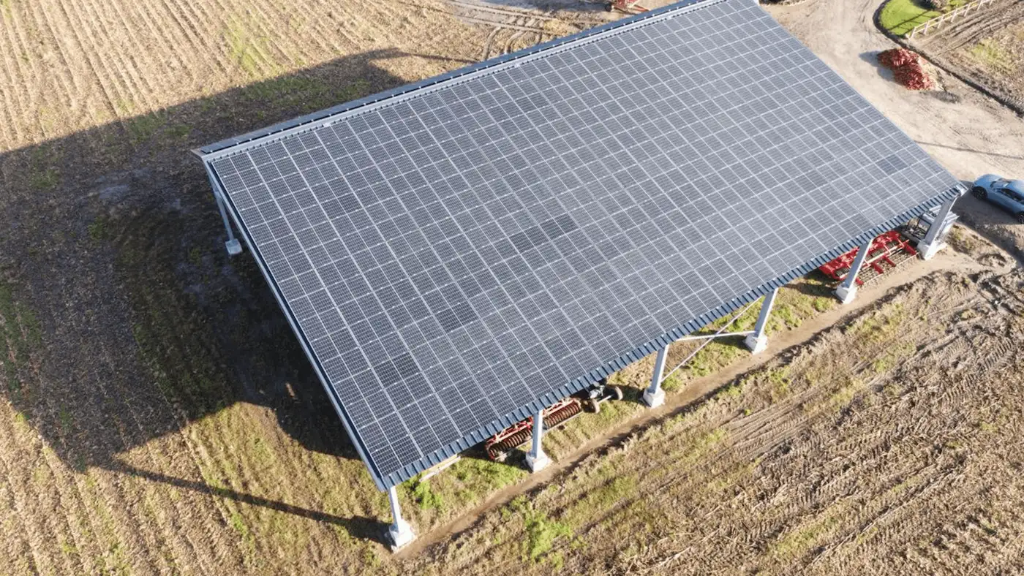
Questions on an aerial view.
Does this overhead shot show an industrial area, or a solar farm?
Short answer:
solar farm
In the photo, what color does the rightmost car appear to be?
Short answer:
blue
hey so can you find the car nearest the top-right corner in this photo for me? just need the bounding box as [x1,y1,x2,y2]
[973,173,1024,223]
